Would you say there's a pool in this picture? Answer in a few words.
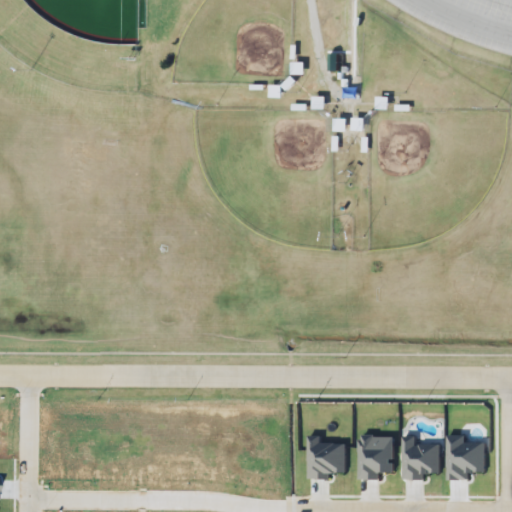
Yes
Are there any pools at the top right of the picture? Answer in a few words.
No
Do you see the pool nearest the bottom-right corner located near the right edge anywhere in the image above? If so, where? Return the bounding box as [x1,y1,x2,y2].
[460,423,487,444]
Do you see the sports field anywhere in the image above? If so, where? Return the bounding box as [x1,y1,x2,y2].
[26,0,146,44]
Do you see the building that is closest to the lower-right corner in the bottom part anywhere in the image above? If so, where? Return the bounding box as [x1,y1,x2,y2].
[446,436,487,480]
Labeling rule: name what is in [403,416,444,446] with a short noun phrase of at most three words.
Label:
swimming pool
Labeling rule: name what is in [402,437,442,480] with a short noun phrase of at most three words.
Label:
house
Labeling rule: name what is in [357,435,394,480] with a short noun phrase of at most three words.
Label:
house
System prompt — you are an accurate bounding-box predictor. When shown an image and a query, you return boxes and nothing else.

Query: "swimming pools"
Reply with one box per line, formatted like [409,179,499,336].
[460,423,487,444]
[403,416,444,446]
